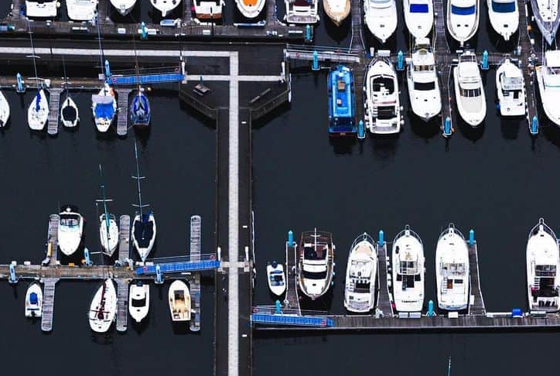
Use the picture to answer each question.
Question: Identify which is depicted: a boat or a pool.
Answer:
boat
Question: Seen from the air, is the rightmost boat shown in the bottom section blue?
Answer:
No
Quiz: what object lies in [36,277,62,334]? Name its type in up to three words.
pier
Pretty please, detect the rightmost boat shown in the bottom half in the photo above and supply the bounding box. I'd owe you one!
[525,222,560,314]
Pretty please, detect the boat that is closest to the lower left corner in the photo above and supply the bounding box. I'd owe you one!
[24,282,43,318]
